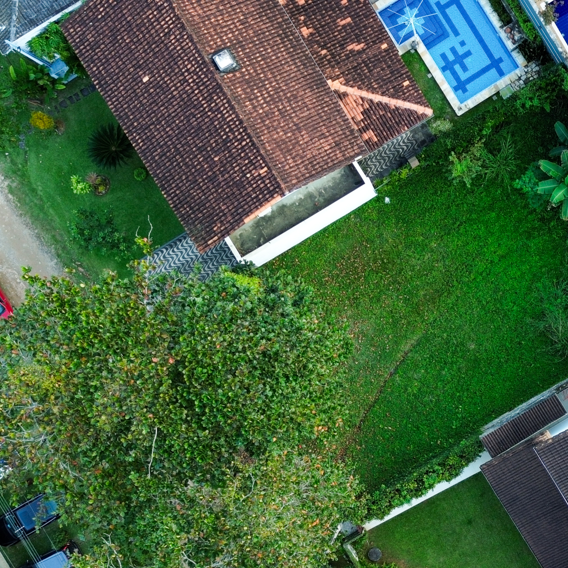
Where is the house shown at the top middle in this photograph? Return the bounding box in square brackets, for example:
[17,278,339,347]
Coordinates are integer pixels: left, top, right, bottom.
[57,0,434,262]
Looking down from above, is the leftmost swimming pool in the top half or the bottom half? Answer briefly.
top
